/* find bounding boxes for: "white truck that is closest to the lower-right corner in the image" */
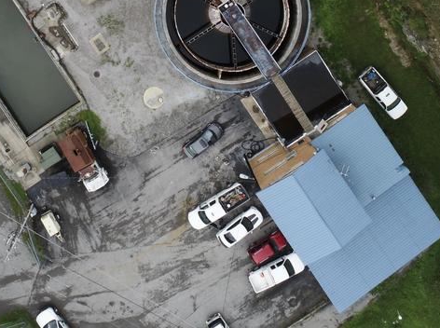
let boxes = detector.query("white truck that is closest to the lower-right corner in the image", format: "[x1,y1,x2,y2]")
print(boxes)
[244,248,307,294]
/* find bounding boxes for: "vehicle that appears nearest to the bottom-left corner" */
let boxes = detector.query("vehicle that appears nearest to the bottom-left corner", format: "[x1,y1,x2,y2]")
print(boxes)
[37,305,66,328]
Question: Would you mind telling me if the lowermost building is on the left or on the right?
right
